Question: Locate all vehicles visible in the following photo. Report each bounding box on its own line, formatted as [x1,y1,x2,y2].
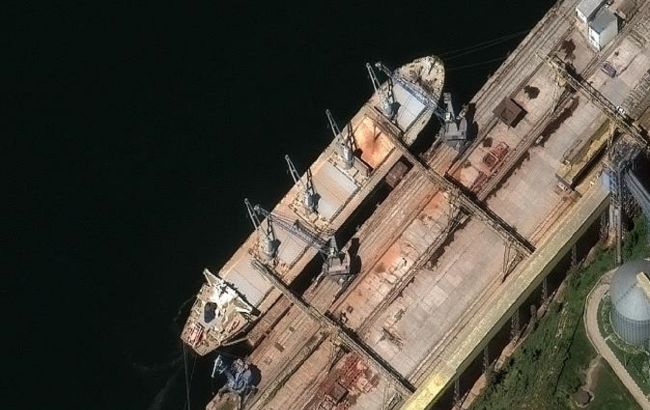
[600,60,618,76]
[555,180,569,192]
[536,136,547,147]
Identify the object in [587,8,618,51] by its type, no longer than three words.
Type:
building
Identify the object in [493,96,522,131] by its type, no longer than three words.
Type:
shed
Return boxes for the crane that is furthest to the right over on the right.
[377,62,472,167]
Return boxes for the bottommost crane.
[209,354,256,410]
